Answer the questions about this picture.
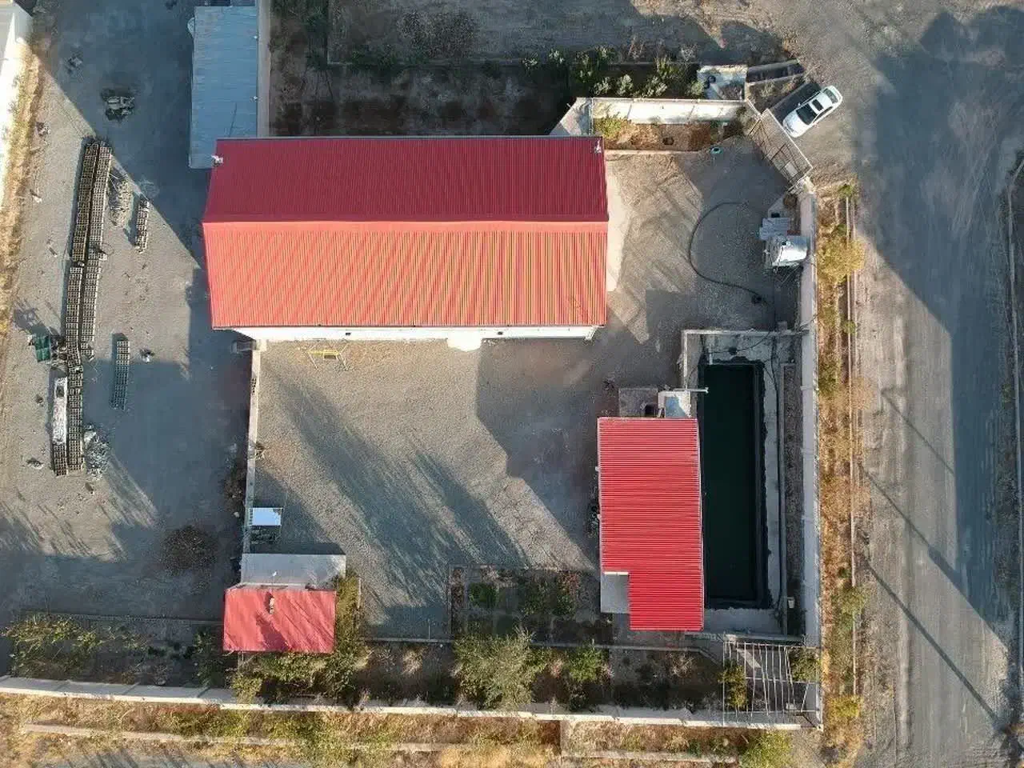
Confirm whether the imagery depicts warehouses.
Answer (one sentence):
Yes, there's a warehouse down there.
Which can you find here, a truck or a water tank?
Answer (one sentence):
I can see a water tank in this picture.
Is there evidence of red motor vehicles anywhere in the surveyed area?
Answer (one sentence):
No, I find no red motor vehicle anywhere in the image.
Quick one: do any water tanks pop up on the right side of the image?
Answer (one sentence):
Yes, on the right side of the image there is a water tank.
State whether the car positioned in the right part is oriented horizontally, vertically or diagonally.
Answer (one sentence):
In this picture, the car positioned in the right part lies diagonally.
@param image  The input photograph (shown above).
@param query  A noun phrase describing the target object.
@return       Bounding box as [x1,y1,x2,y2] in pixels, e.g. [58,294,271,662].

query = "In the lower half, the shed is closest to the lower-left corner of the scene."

[223,549,355,653]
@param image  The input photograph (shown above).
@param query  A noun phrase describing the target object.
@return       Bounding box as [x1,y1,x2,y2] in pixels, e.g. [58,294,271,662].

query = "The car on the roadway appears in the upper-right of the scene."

[780,81,848,140]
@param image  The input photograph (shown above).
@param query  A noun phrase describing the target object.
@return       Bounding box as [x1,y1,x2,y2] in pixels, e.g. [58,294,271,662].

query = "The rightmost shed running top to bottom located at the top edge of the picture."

[187,6,259,175]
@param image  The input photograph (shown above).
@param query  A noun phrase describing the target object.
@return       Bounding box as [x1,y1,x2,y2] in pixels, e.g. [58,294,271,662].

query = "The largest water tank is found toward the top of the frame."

[767,237,808,282]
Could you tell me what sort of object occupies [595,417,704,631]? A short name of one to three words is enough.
building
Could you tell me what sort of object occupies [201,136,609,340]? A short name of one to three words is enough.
warehouse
